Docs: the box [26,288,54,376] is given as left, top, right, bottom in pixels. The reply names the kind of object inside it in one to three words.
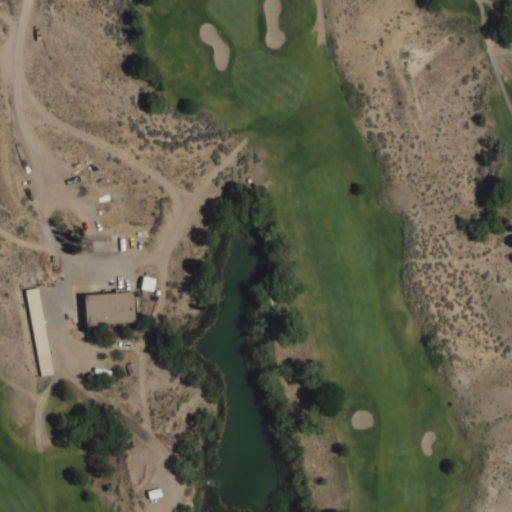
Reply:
building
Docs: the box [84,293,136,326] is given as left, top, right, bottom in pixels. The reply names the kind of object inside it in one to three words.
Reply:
building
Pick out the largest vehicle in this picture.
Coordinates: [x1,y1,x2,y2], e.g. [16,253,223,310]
[18,145,31,172]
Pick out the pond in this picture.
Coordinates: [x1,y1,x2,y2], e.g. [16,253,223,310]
[194,235,278,511]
